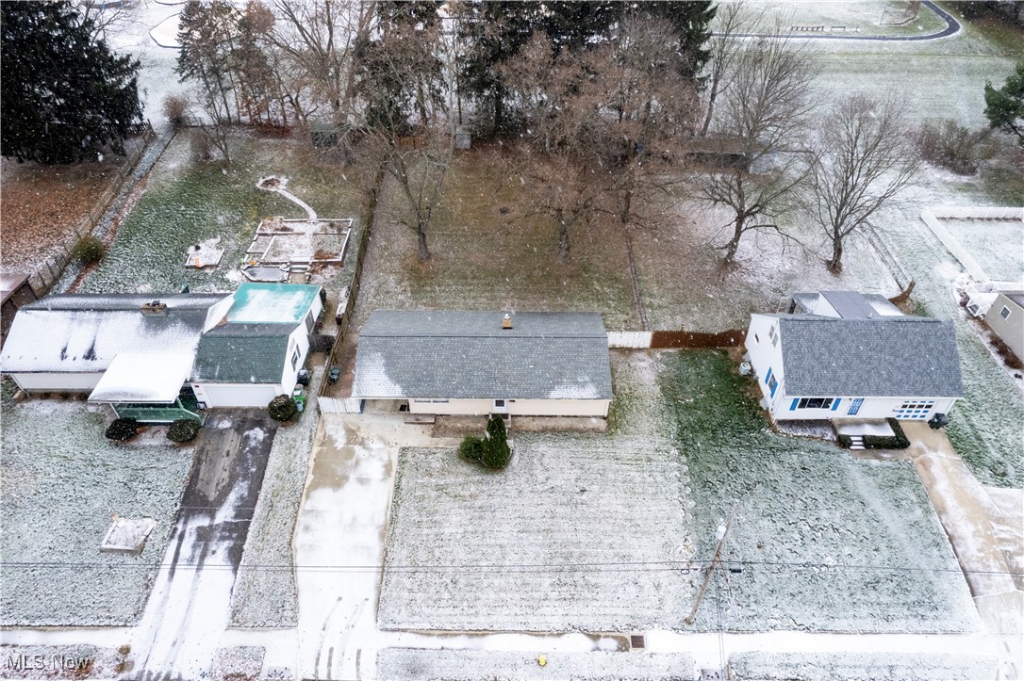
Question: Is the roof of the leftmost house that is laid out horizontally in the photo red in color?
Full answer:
No, the color of the roof of the leftmost house that is laid out horizontally is white.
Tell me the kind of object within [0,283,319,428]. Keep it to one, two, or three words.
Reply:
house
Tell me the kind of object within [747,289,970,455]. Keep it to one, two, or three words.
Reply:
house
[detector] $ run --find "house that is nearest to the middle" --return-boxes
[354,311,613,429]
